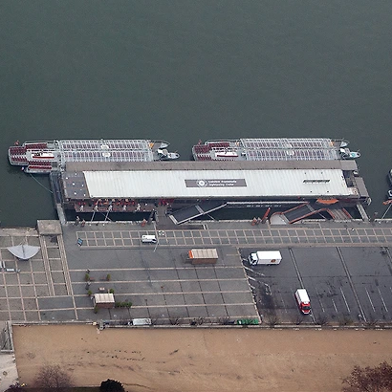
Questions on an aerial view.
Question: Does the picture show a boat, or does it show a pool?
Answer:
boat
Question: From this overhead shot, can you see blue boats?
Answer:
No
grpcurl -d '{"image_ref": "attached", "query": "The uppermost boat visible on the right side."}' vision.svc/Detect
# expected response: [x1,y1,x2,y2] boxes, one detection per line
[194,133,366,171]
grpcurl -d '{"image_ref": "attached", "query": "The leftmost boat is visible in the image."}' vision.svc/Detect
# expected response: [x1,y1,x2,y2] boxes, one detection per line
[10,134,188,176]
